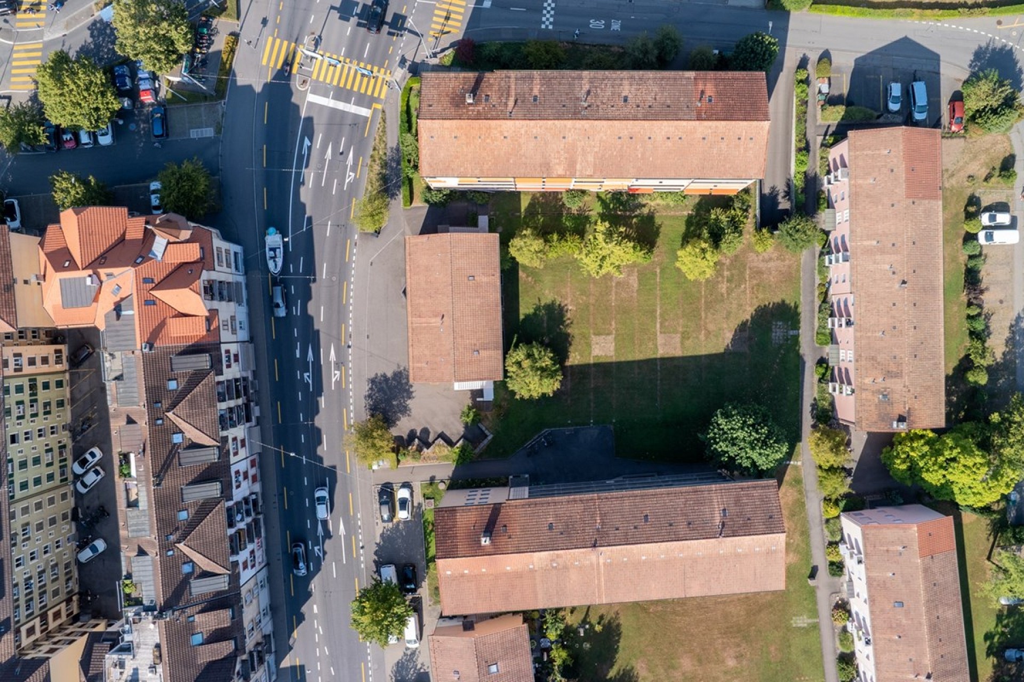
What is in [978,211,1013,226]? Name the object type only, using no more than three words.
car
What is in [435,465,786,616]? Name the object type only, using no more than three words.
building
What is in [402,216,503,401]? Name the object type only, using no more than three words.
building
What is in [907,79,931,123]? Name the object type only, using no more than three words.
vehicle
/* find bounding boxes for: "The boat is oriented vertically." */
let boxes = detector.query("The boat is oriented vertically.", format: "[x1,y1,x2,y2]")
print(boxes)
[264,230,282,277]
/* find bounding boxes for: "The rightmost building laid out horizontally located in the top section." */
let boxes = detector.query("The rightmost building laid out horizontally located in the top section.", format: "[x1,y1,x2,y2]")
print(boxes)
[418,71,770,197]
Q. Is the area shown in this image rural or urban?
urban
